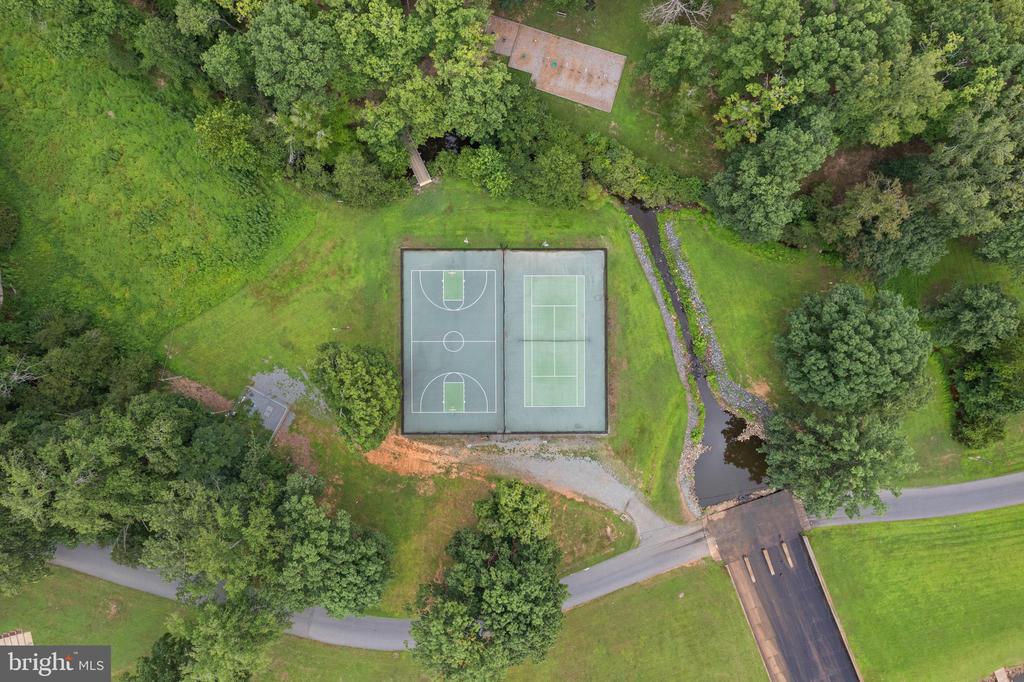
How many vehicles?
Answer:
zero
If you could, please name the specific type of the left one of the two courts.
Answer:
basketball court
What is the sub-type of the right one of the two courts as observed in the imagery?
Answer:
tennis court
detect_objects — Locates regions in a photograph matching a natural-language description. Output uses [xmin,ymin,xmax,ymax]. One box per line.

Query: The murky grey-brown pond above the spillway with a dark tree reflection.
[695,394,775,506]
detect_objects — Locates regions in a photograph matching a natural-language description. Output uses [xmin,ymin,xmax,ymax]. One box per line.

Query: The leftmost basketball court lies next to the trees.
[403,250,503,433]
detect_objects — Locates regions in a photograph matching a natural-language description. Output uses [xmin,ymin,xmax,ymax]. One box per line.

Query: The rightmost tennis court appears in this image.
[504,250,606,433]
